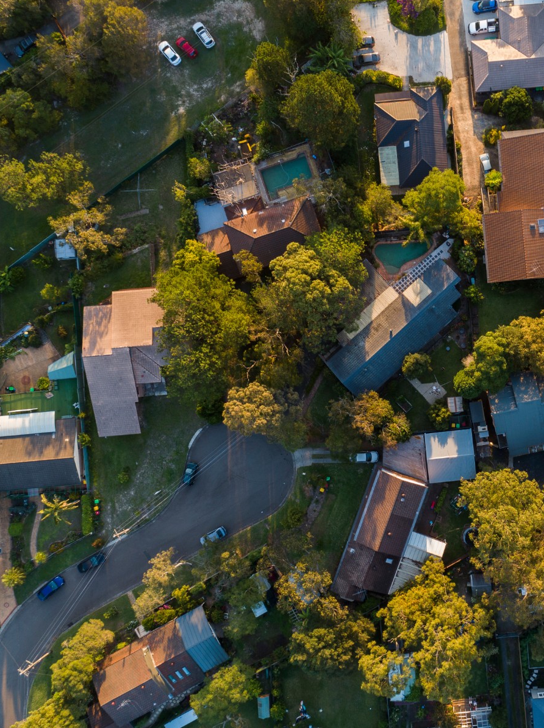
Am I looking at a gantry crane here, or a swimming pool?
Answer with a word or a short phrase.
swimming pool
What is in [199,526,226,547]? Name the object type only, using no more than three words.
car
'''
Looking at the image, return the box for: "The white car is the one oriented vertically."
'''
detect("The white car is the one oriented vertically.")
[479,152,493,177]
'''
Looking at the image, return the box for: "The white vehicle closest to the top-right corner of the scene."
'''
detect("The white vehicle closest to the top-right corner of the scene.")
[467,17,499,33]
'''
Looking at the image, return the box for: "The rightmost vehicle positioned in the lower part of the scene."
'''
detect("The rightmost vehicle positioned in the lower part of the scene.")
[349,451,379,464]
